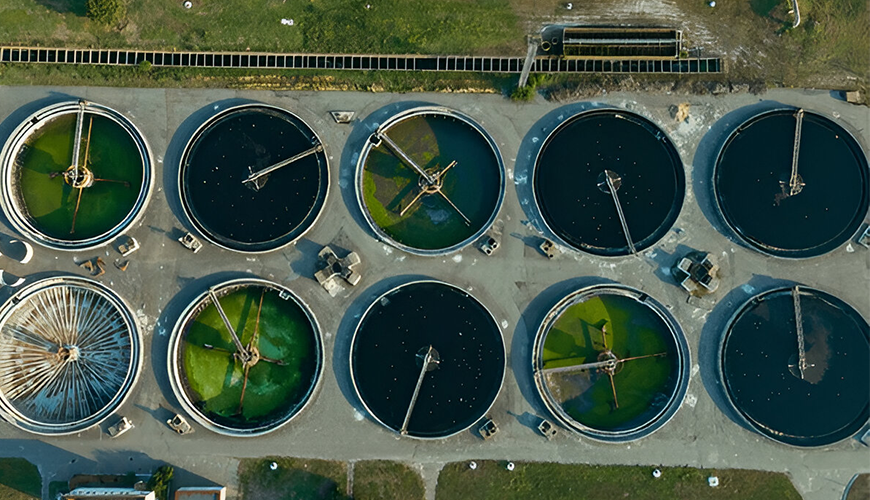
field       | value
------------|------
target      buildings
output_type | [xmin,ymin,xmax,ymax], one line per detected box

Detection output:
[51,485,163,500]
[175,486,227,500]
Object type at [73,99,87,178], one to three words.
bridge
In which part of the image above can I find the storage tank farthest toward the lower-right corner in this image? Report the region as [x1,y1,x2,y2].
[716,287,870,445]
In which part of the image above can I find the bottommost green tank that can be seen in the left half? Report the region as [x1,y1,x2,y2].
[167,278,326,436]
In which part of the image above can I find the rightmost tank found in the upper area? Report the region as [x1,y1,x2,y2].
[714,107,868,260]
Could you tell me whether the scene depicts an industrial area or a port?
industrial area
